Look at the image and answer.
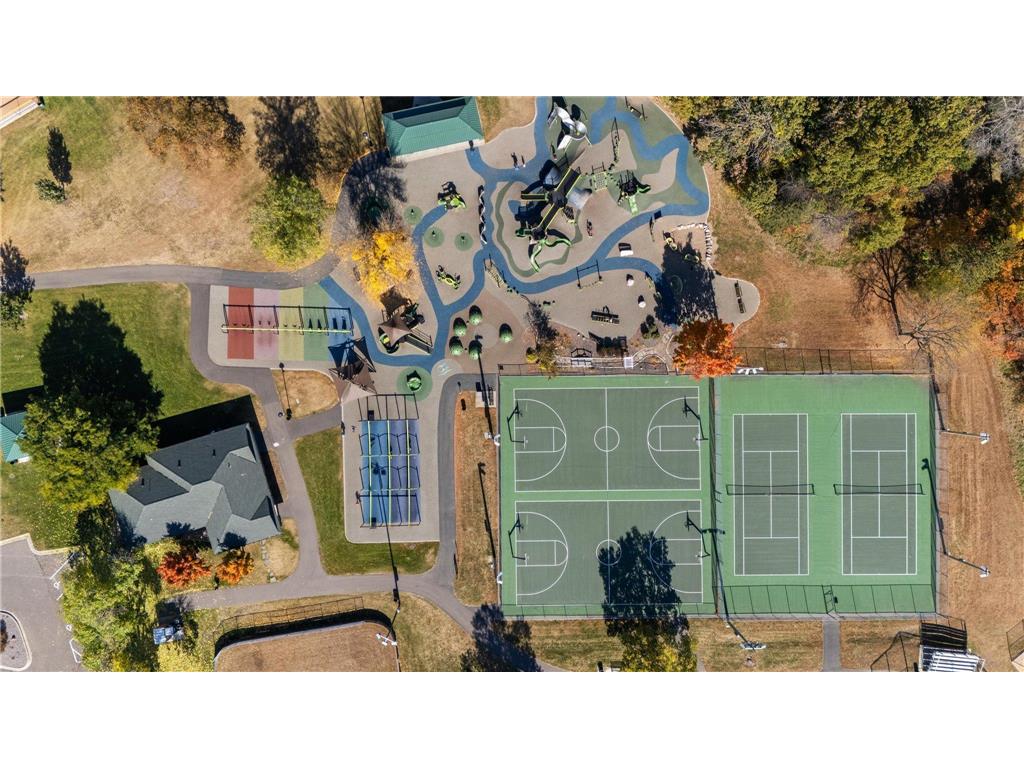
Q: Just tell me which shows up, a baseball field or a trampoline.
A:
baseball field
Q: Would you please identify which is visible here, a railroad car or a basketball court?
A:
basketball court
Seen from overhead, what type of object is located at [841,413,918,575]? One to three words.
tennis court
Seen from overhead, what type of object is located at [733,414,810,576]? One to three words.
tennis court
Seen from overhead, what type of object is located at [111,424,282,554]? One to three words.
house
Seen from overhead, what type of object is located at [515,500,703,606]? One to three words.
basketball court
